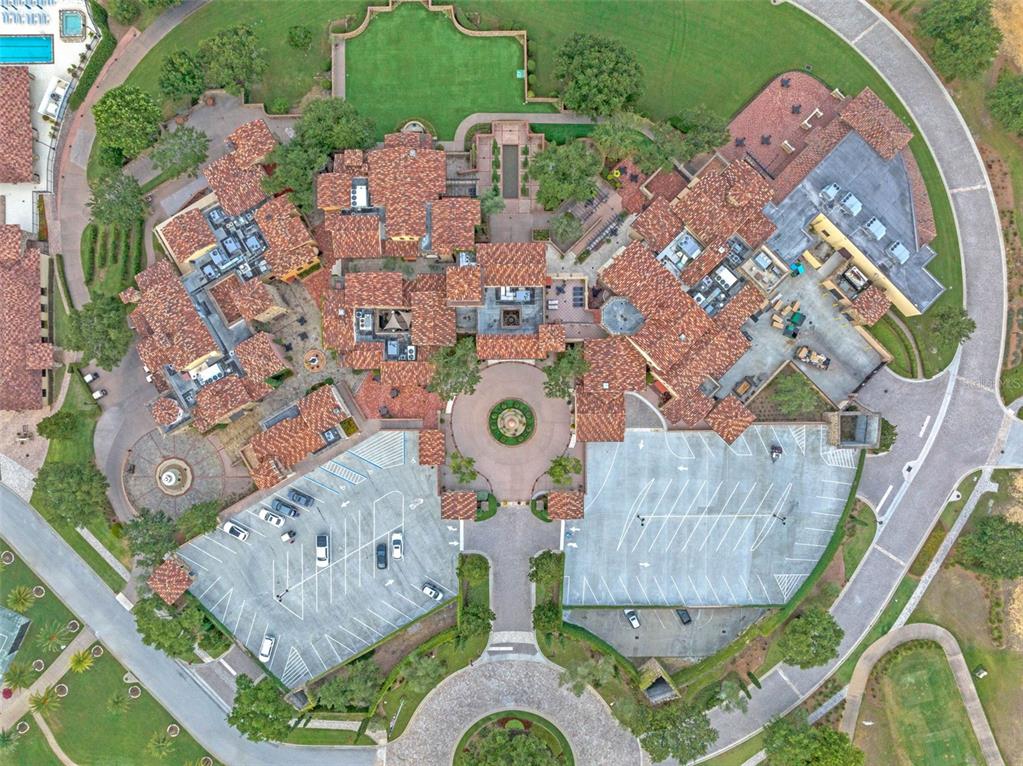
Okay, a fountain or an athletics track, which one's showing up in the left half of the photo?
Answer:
fountain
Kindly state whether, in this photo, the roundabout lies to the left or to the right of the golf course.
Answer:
on its left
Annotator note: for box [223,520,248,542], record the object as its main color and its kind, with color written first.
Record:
white car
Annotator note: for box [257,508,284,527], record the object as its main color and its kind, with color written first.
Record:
white car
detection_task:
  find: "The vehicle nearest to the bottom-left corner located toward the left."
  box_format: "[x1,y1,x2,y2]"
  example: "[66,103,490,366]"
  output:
[258,635,275,663]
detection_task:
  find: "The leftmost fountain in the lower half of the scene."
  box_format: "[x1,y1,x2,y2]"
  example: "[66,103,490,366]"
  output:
[154,458,193,496]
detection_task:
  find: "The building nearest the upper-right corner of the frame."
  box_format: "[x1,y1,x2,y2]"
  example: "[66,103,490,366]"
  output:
[754,87,947,327]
